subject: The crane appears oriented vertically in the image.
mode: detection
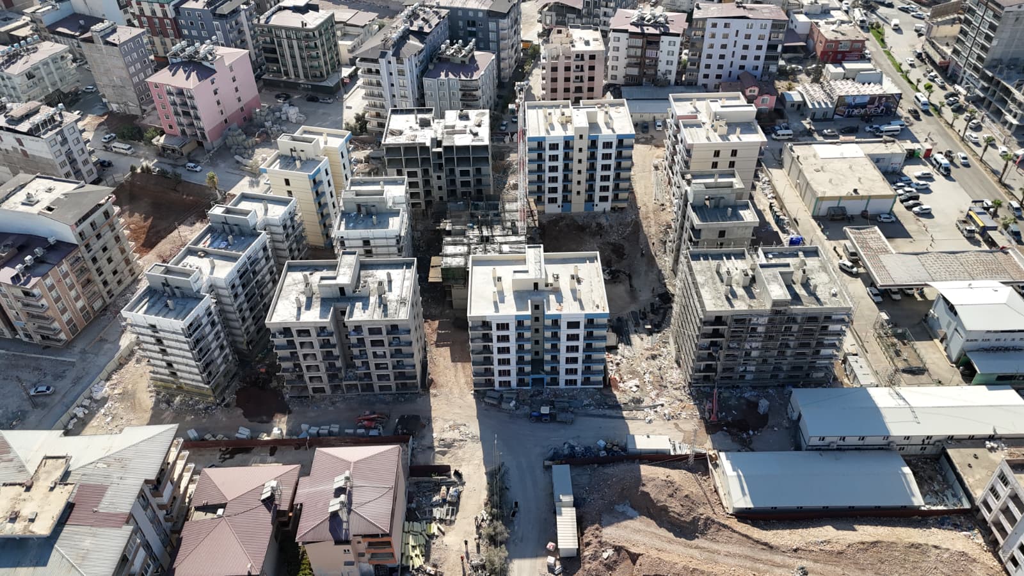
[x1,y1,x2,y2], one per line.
[514,60,530,253]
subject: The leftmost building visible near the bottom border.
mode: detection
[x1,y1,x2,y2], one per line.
[0,422,216,576]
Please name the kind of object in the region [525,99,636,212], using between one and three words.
building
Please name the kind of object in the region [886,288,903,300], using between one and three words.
vehicle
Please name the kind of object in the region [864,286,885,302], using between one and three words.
vehicle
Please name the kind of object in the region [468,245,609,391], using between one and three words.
building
